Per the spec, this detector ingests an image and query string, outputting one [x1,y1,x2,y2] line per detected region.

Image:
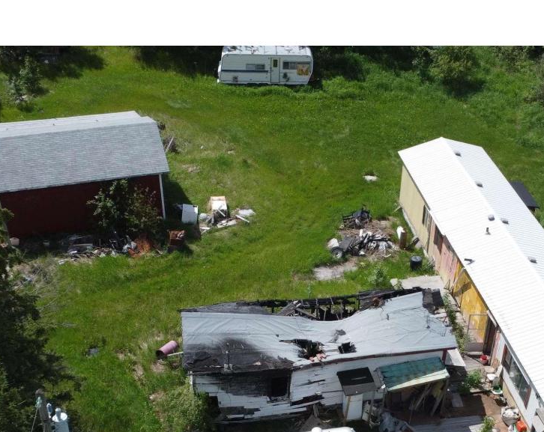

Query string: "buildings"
[0,111,171,242]
[181,287,457,421]
[398,137,544,432]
